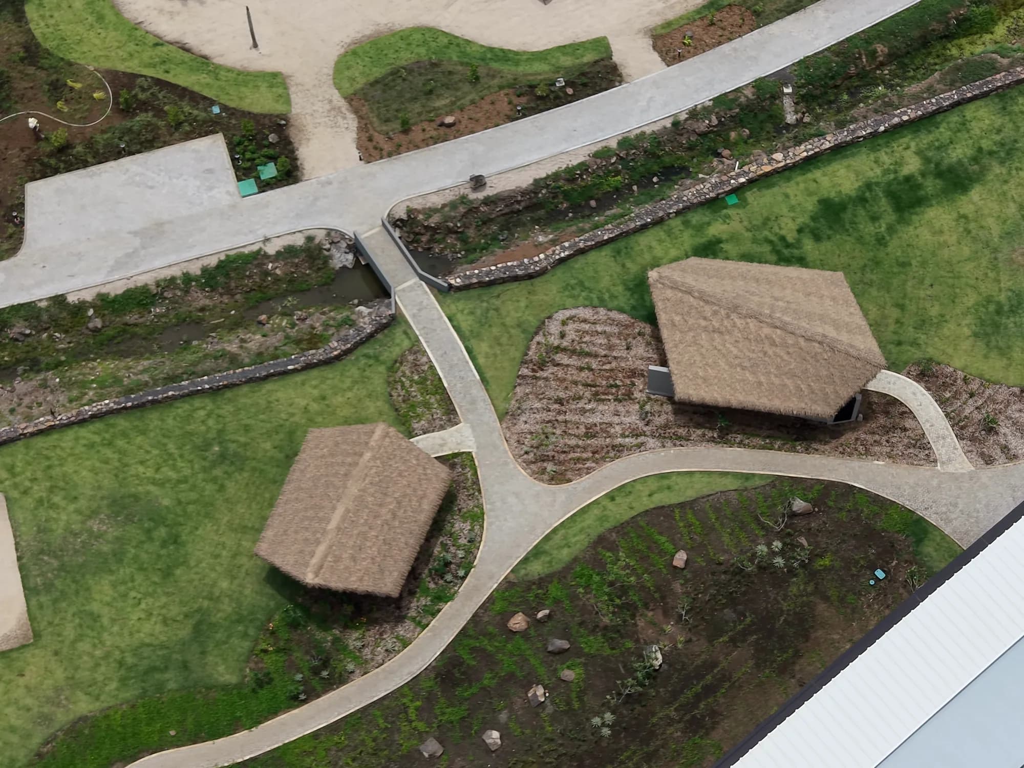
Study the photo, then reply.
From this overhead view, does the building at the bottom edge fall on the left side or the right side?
right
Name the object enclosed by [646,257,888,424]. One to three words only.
shed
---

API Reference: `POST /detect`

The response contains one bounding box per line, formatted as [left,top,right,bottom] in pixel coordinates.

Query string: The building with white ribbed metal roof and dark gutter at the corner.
[713,500,1024,768]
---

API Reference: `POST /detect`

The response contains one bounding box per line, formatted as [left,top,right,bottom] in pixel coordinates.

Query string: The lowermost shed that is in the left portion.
[256,420,452,597]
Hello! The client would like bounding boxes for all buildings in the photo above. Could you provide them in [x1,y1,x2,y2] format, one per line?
[256,420,452,597]
[713,500,1024,768]
[646,257,888,424]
